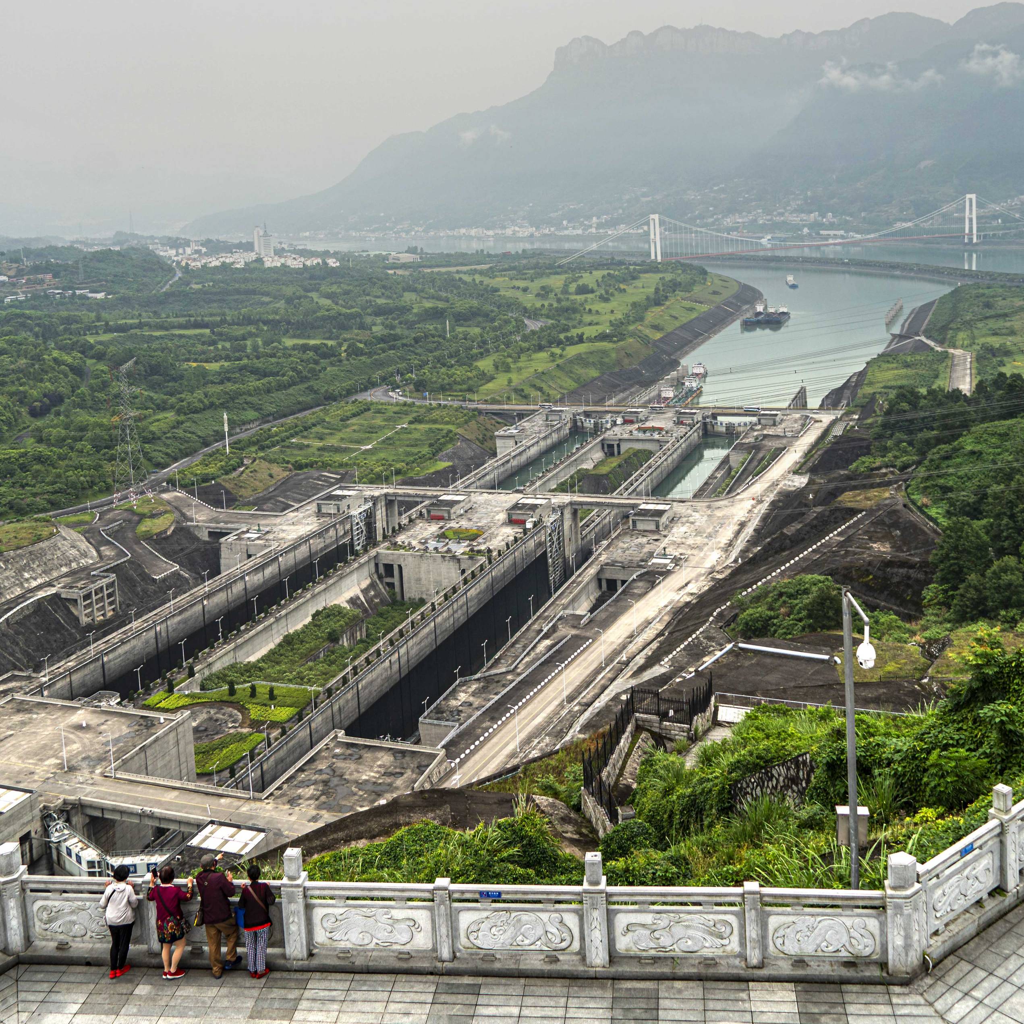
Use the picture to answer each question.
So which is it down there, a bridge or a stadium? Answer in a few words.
bridge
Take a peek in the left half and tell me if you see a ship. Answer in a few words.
No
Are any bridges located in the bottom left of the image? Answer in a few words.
Yes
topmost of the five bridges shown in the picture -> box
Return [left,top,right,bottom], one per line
[524,195,1024,268]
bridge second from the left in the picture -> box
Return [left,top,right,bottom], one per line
[388,484,463,502]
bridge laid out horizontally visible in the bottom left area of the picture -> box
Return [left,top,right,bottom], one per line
[71,769,259,832]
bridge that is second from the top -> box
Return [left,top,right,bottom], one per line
[493,402,845,424]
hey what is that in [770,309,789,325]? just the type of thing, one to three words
ship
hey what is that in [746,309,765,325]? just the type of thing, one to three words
ship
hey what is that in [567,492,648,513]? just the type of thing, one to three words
bridge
